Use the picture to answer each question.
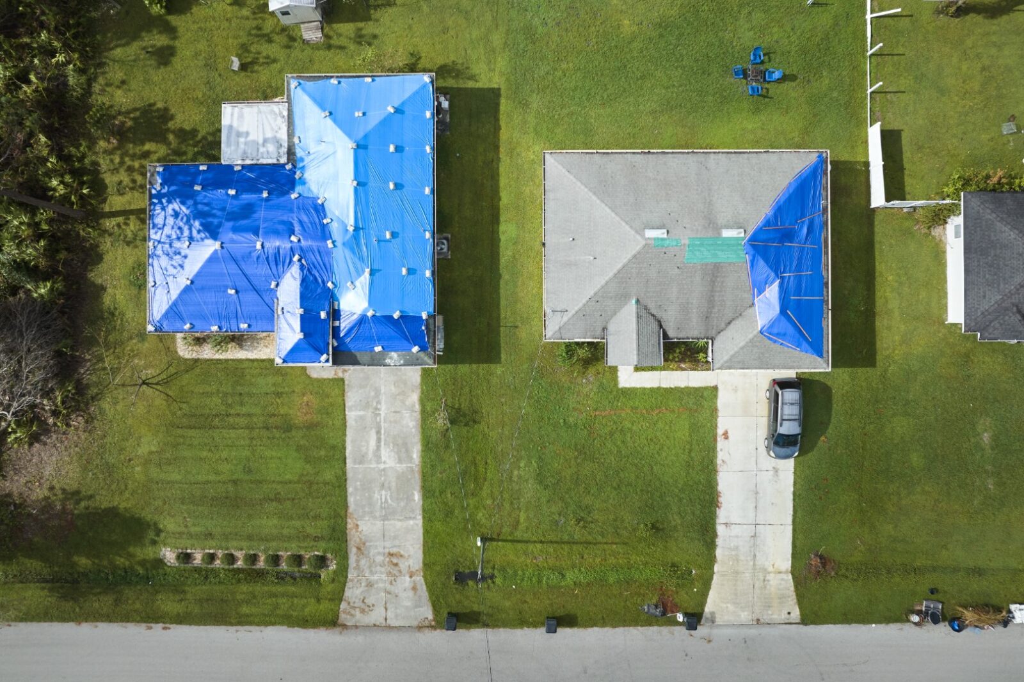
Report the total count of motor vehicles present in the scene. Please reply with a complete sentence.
The count comes to 1 motor vehicle.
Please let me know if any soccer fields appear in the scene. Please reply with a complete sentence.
No, this view has no soccer field in it.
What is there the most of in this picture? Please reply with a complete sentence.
What you mostly see from above here is grass.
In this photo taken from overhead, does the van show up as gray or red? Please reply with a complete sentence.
The van is gray.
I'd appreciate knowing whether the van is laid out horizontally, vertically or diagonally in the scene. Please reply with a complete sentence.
From this overhead view, the van appears to run vertically.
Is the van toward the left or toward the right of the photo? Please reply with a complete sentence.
You can find the van on the right side of the picture.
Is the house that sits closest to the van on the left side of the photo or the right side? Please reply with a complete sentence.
The house that sits closest to the van is on the right side of the image.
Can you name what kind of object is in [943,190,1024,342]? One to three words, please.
house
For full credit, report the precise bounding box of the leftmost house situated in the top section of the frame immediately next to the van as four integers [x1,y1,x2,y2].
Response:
[543,151,831,371]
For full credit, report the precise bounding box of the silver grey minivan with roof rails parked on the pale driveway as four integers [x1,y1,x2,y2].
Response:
[764,378,804,460]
